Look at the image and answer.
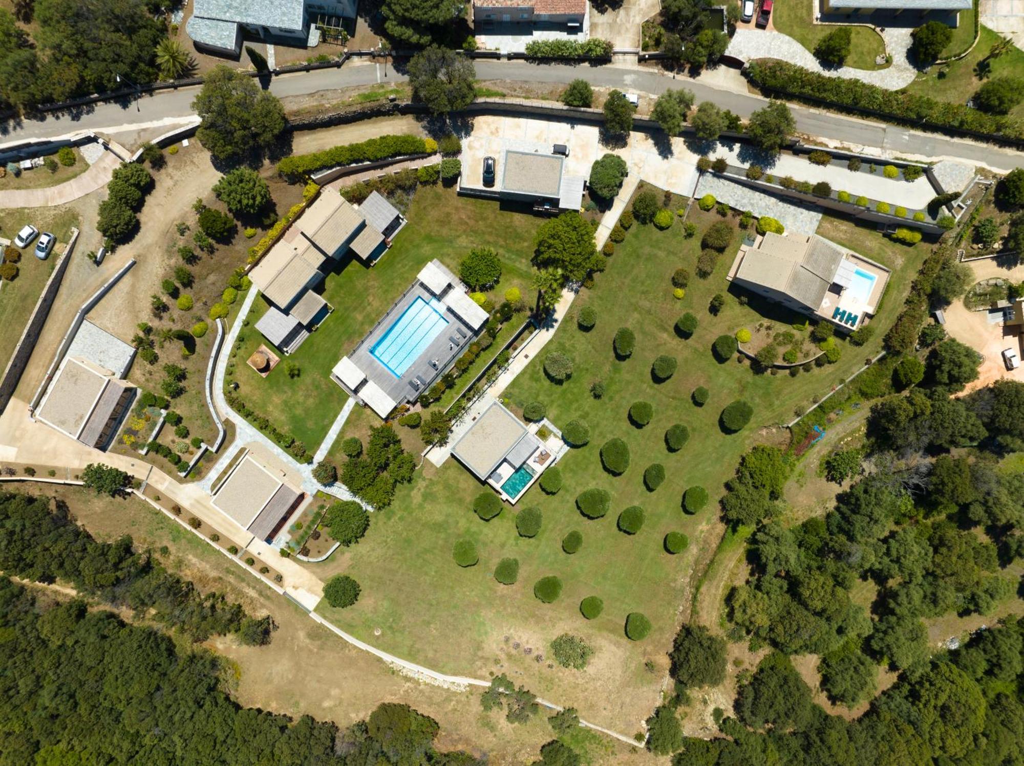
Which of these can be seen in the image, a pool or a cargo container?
pool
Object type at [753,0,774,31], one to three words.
truck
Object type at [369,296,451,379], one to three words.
swimming pool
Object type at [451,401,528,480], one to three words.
house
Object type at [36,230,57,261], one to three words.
car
